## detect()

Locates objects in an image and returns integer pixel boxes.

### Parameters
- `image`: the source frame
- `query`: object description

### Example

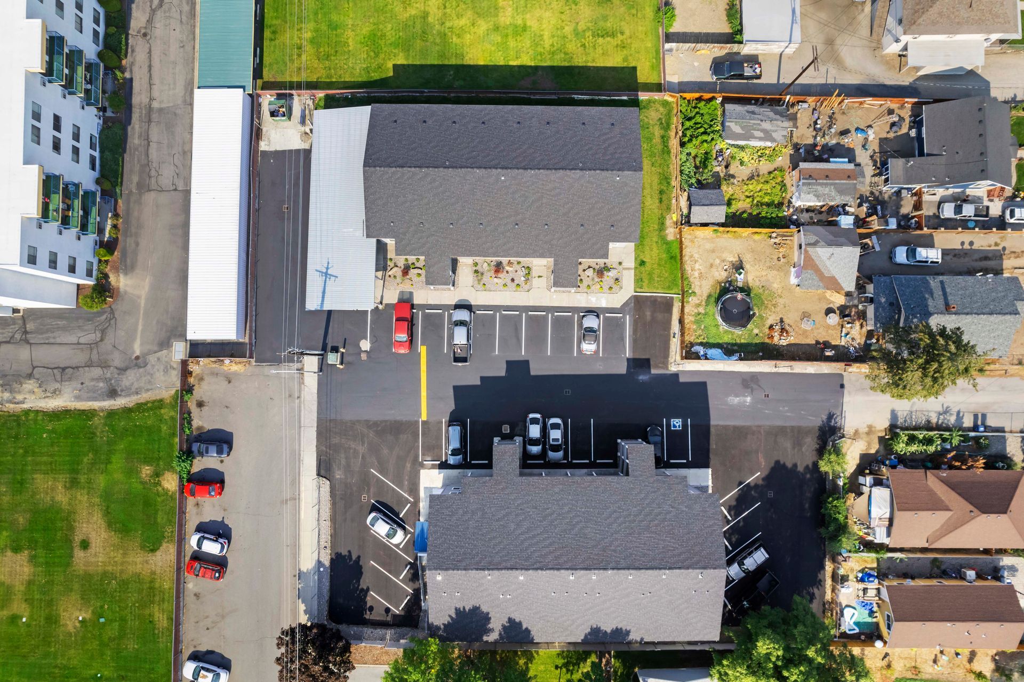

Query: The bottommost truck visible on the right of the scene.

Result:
[728,568,780,612]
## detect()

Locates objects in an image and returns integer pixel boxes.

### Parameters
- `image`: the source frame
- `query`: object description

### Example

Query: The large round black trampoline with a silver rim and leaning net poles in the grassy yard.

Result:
[715,289,760,330]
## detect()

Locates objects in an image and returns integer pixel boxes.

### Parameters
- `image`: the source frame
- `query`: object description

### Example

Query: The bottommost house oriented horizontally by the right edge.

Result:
[875,577,1024,650]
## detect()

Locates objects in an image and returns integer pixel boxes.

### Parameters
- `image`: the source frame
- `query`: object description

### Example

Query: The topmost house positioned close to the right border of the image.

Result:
[884,0,1019,76]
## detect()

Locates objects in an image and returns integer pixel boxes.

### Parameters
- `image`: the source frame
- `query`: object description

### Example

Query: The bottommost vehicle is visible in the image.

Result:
[184,658,232,682]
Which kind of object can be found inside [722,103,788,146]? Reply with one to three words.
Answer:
shed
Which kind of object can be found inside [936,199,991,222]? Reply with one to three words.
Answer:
truck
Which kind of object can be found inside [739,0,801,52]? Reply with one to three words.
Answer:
building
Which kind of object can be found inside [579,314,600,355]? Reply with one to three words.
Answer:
car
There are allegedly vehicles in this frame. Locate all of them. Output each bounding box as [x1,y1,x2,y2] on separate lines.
[936,199,991,222]
[190,531,231,556]
[450,309,472,367]
[710,58,762,83]
[366,510,406,544]
[184,480,226,501]
[186,557,228,582]
[391,301,413,353]
[579,314,600,355]
[192,439,233,460]
[728,568,780,612]
[524,412,545,455]
[545,417,566,463]
[645,424,665,468]
[890,244,943,266]
[444,421,465,465]
[184,658,232,682]
[726,540,772,580]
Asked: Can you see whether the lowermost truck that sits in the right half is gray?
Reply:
No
